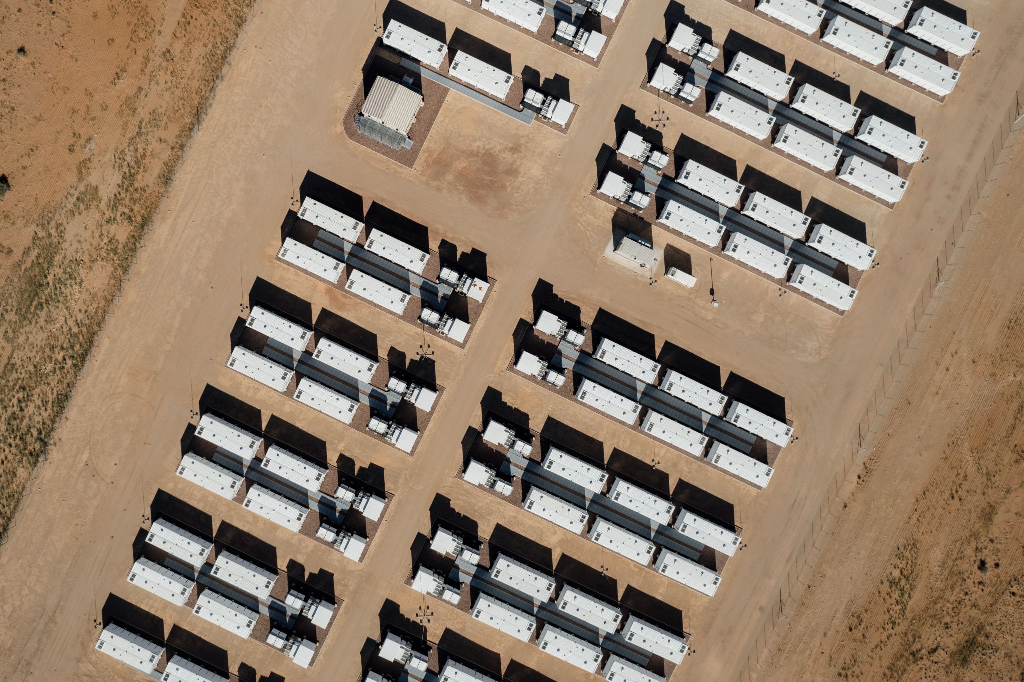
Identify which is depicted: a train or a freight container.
freight container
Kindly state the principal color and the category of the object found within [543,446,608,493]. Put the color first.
white shipping container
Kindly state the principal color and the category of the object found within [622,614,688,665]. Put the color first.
white shipping container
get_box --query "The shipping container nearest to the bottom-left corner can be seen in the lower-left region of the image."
[94,624,166,675]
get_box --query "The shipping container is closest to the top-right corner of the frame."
[906,8,979,59]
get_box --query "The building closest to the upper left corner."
[356,77,427,152]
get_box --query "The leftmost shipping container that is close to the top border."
[384,19,449,70]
